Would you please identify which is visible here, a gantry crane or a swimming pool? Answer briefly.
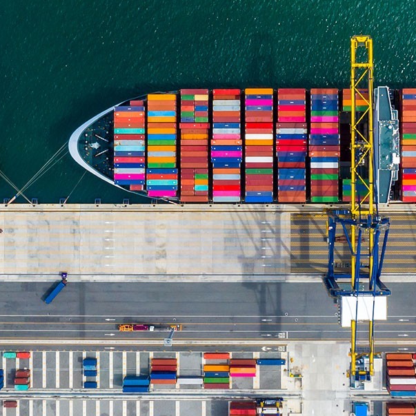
gantry crane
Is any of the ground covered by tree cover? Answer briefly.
No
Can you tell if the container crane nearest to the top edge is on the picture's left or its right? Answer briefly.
right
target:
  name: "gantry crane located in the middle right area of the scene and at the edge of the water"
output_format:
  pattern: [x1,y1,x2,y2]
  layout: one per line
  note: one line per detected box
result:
[322,32,390,380]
